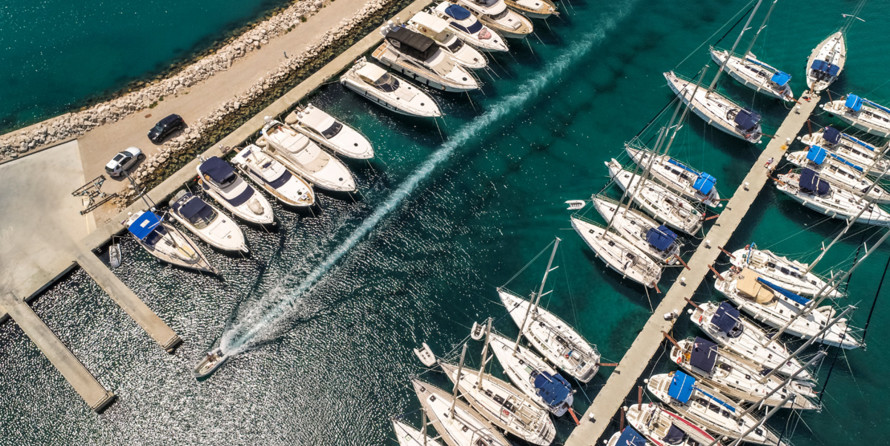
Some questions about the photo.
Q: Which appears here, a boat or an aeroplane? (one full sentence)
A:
Of the two, only a boat appears.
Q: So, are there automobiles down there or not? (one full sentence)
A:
Yes, the picture does show an automobile.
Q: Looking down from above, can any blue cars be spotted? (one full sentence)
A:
No, there's no blue car here.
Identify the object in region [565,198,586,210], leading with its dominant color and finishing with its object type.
white boat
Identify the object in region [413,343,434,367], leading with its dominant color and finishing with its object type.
white boat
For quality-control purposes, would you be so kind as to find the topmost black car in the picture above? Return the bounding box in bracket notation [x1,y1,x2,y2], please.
[148,114,189,143]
